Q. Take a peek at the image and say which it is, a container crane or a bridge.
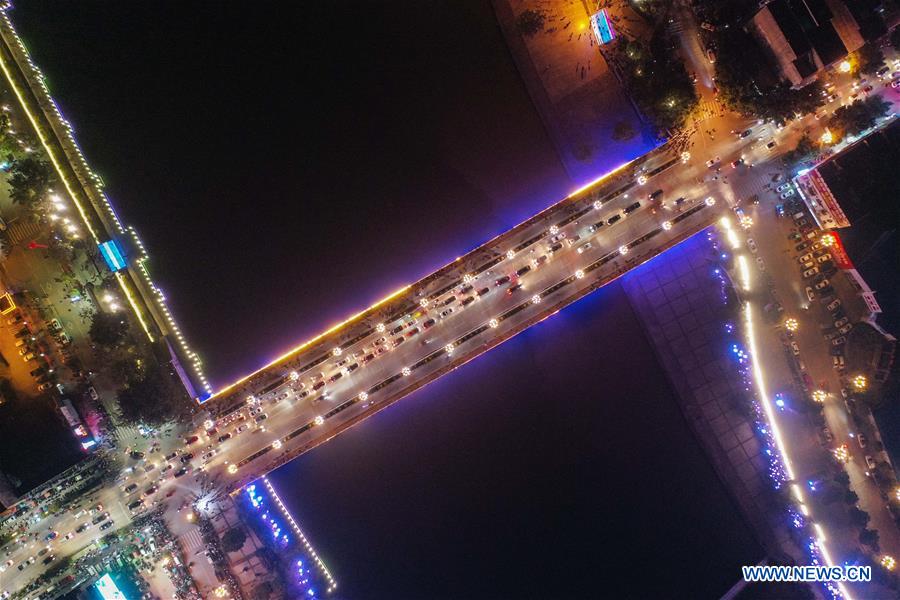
bridge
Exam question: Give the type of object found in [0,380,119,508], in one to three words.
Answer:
building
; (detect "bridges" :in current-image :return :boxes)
[201,141,729,486]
